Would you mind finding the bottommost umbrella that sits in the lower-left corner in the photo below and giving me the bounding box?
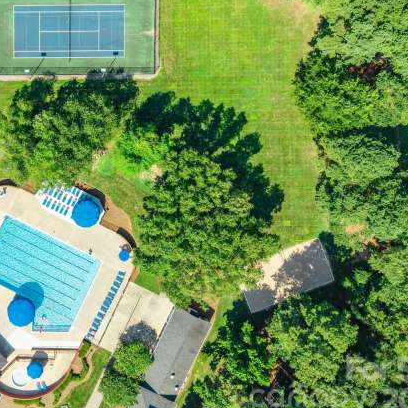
[27,360,44,377]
